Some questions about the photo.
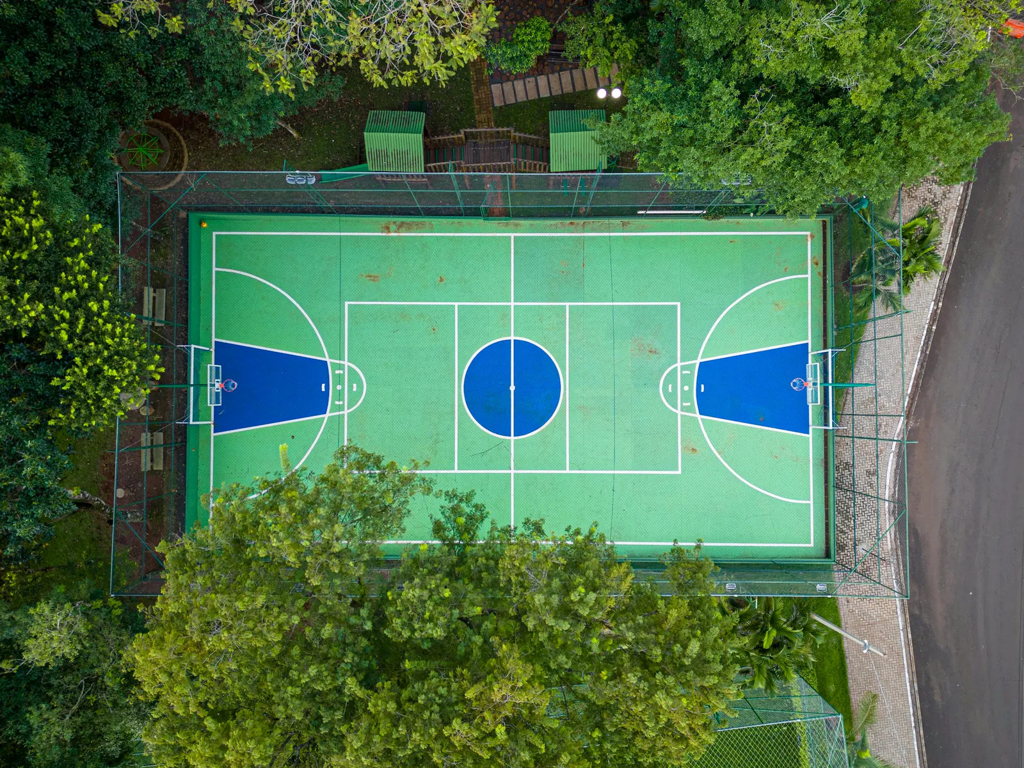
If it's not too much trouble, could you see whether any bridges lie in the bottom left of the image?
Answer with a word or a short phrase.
No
